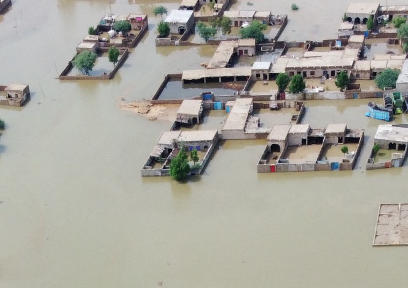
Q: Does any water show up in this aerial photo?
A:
Yes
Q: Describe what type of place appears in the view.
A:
residential area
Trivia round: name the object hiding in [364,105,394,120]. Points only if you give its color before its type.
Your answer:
blue vehicle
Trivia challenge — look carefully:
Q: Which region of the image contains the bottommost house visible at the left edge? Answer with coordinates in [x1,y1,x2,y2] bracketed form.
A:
[6,83,30,99]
